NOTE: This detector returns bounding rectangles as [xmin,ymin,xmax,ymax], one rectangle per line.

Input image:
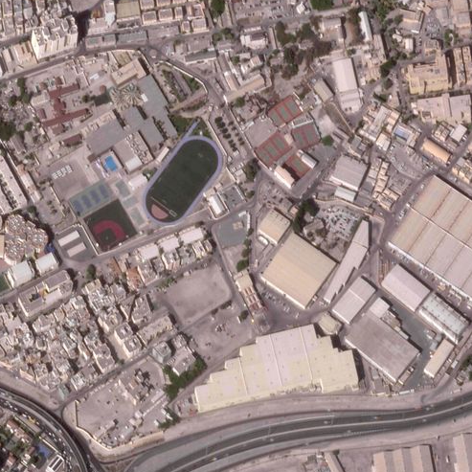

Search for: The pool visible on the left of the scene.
[103,152,121,172]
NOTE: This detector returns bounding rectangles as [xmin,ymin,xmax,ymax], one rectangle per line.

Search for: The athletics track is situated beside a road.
[144,122,223,223]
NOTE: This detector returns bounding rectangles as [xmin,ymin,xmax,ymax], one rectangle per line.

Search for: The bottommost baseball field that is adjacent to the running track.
[74,198,137,254]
